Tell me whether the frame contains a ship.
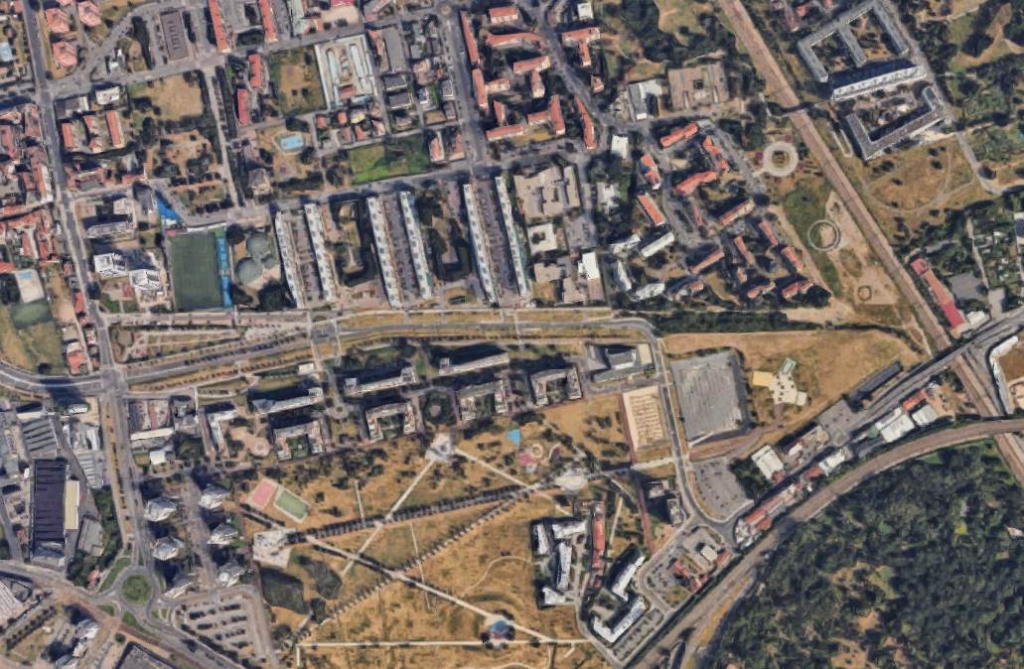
No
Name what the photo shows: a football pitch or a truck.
football pitch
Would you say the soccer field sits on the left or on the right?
left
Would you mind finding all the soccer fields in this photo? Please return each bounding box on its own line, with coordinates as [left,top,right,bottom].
[169,230,223,312]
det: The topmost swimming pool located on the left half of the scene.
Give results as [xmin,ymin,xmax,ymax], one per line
[273,131,310,155]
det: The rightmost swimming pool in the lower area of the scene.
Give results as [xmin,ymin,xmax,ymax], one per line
[507,429,521,444]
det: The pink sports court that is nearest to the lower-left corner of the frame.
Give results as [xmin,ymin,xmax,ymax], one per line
[250,478,279,509]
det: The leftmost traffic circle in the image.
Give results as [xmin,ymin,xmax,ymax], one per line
[116,567,160,612]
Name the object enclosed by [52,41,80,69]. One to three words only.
house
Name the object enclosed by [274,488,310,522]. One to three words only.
sports court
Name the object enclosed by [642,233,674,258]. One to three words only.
building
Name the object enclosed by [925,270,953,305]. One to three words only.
shed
